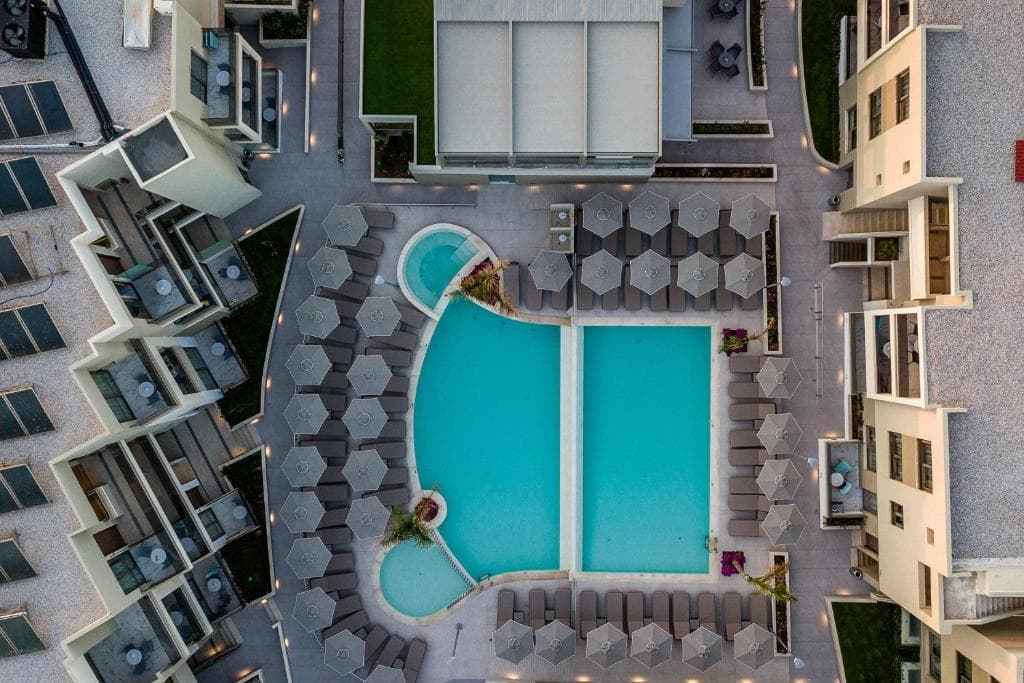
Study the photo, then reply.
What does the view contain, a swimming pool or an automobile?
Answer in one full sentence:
This aerial view contains a swimming pool.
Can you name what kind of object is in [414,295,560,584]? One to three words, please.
swimming pool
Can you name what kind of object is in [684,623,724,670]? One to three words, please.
umbrella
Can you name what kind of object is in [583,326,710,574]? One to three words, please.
swimming pool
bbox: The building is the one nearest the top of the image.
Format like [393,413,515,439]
[363,0,664,184]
